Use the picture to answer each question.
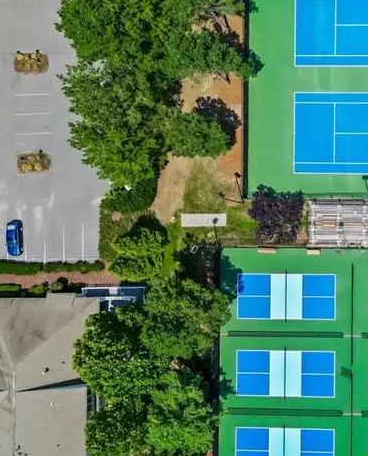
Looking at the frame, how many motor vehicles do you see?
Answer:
1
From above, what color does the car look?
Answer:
blue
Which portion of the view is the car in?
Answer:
left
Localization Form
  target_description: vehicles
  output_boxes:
[7,221,27,256]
